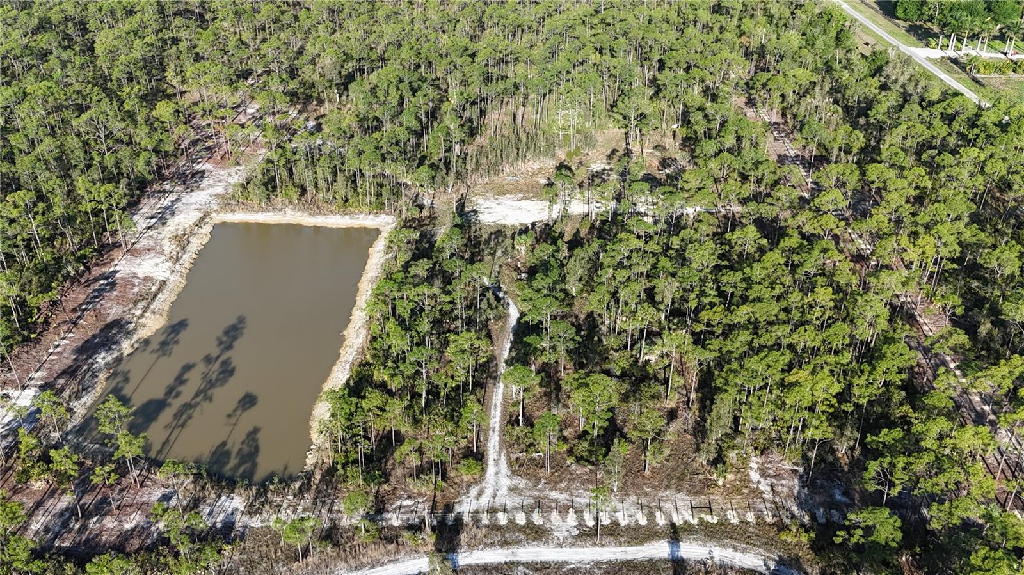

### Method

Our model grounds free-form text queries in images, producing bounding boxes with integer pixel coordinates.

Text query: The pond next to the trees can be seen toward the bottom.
[70,222,381,477]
